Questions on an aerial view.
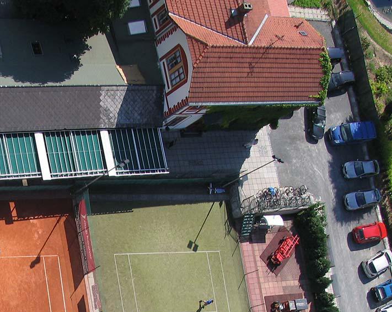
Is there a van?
Yes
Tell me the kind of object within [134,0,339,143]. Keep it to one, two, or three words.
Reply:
house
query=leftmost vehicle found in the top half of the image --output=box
[307,98,331,147]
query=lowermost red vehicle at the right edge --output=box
[352,220,390,244]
